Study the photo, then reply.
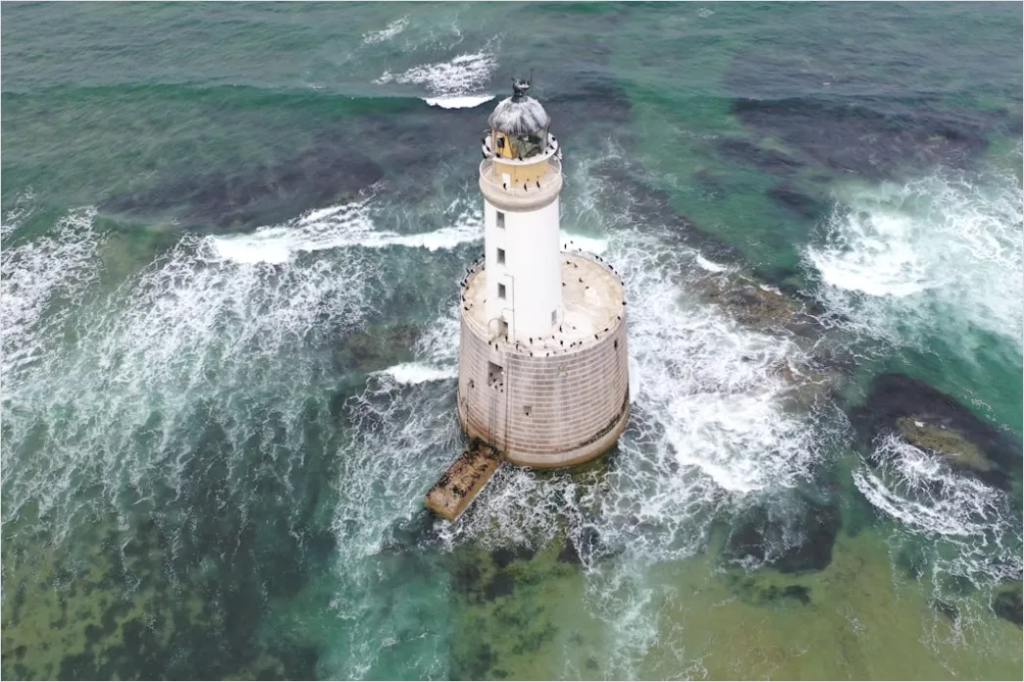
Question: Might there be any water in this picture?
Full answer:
Yes, some water is visible.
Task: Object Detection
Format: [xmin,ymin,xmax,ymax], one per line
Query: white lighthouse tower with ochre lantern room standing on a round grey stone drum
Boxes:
[456,68,631,481]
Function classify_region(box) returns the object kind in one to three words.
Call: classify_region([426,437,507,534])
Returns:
pier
